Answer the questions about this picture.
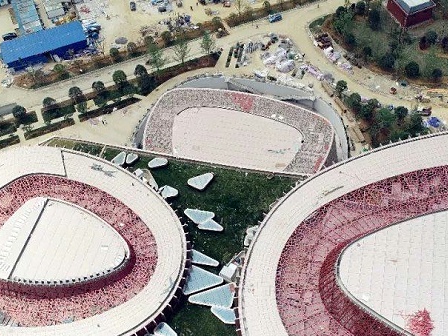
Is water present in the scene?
No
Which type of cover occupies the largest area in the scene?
buildings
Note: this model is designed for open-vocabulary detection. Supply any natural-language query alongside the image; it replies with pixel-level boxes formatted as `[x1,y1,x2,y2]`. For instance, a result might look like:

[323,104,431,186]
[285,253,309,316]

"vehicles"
[156,5,170,13]
[131,2,137,11]
[267,13,284,22]
[220,1,233,8]
[2,32,18,41]
[196,0,210,5]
